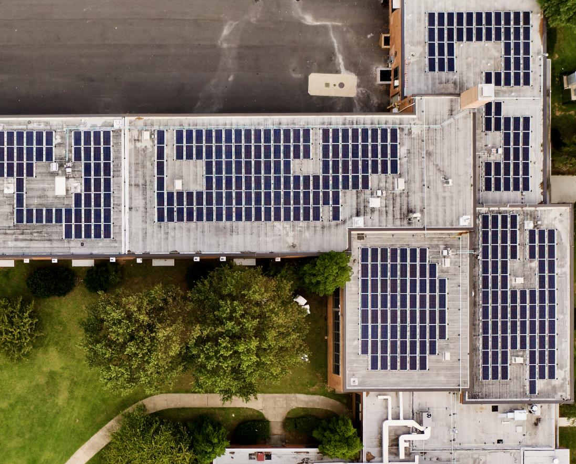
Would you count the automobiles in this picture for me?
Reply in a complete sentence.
No automobiles are visible.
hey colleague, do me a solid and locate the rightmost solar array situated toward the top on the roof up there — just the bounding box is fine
[481,101,534,192]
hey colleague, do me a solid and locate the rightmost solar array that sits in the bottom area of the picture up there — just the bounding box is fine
[478,214,559,395]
